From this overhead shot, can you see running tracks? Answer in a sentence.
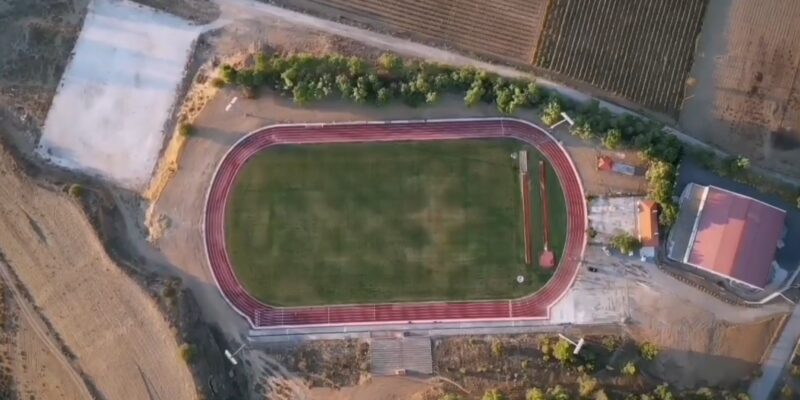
Yes, I can see a running track in this picture.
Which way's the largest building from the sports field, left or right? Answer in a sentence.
You can see the largest building positioned to the right of the sports field.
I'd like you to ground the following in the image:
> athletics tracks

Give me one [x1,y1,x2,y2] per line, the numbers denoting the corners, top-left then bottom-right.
[205,116,588,330]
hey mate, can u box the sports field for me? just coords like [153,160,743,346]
[226,137,568,308]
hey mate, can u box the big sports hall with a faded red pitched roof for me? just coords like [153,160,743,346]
[657,180,788,289]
